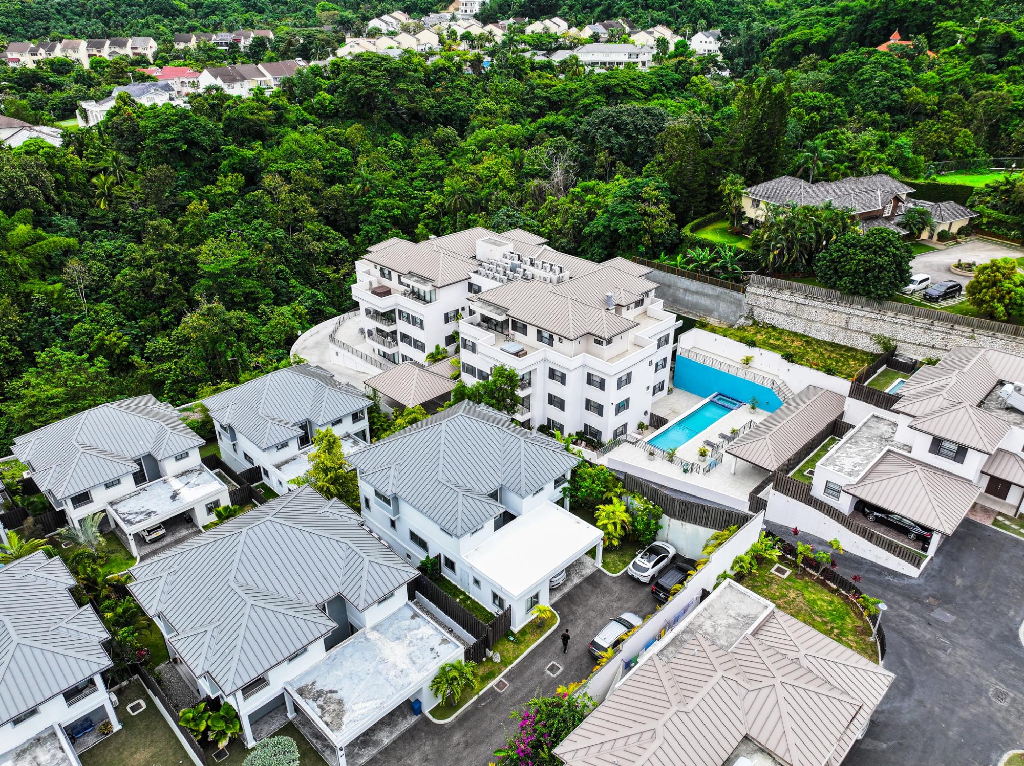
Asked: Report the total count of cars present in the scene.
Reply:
8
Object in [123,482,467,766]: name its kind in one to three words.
house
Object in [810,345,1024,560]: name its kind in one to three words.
house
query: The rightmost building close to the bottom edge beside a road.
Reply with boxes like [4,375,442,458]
[553,572,896,766]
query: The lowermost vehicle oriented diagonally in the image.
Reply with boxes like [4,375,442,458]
[581,610,643,668]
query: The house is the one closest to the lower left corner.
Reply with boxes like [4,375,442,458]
[0,550,116,766]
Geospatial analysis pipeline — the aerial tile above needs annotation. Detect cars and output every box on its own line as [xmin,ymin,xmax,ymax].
[581,610,643,668]
[859,502,937,546]
[550,568,576,597]
[925,277,964,302]
[648,550,704,597]
[903,273,938,294]
[140,524,177,557]
[621,543,679,593]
